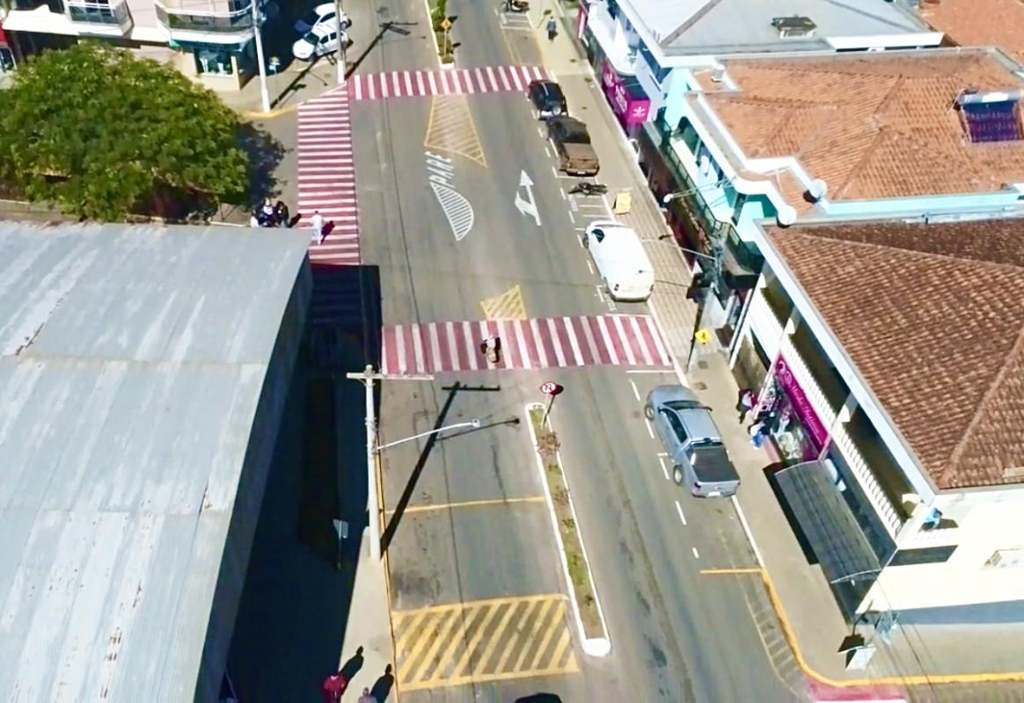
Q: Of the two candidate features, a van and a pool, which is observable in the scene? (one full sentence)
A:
The image shows a van.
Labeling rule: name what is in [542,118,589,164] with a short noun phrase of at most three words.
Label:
truck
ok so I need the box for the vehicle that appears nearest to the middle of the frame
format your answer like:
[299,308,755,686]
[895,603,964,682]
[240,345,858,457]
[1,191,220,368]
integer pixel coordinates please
[579,216,649,292]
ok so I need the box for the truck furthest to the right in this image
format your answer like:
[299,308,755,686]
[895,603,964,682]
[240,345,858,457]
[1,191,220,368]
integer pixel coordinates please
[644,373,745,501]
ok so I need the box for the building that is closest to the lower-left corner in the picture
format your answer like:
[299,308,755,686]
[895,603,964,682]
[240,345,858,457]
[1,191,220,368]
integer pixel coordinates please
[0,225,315,703]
